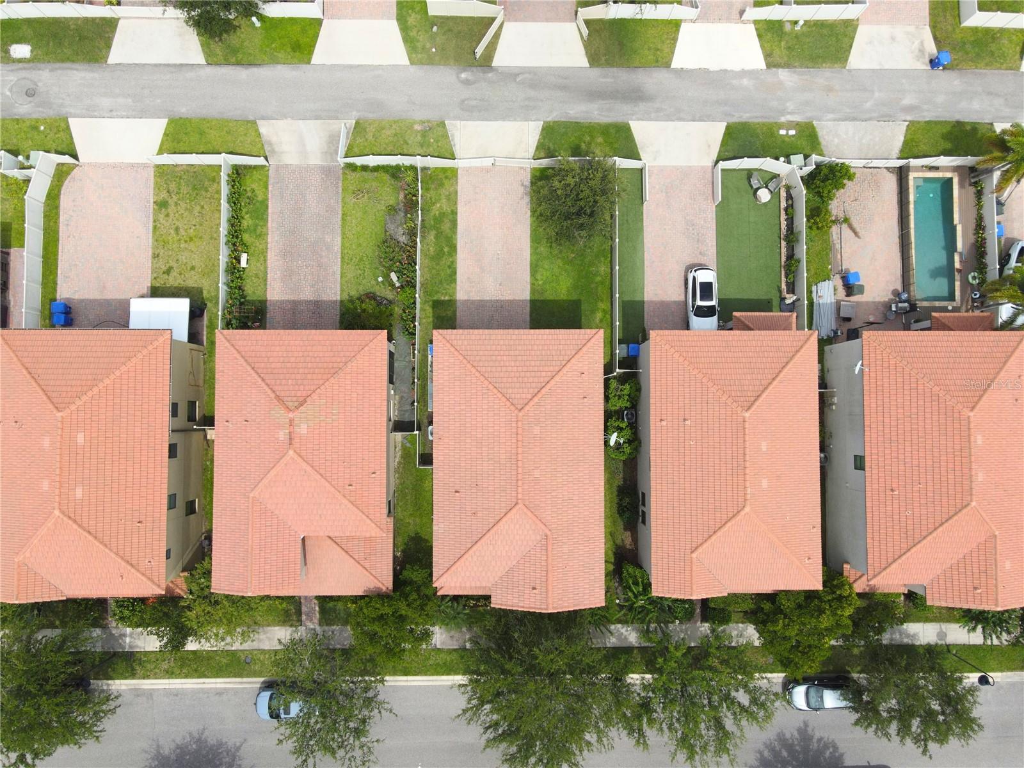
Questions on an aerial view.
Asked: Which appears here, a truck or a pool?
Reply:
pool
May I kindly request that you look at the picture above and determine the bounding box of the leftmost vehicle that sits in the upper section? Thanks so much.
[689,270,723,331]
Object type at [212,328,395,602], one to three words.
house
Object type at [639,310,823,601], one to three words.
house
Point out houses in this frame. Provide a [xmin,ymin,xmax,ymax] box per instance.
[825,312,1024,614]
[431,327,606,614]
[639,310,823,601]
[0,327,213,605]
[212,328,395,602]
